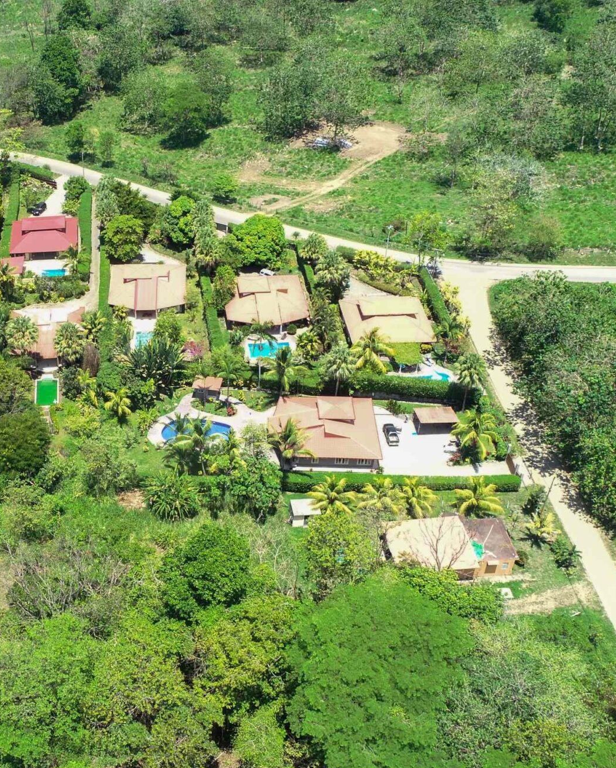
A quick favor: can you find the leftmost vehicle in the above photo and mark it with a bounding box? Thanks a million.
[31,203,47,216]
